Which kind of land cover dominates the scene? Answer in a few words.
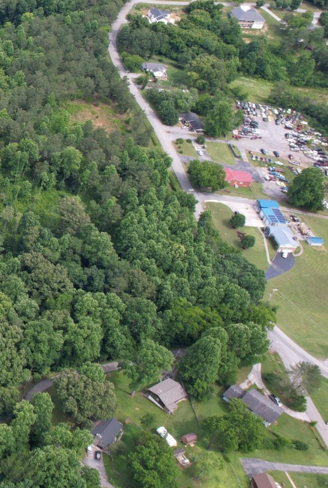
trees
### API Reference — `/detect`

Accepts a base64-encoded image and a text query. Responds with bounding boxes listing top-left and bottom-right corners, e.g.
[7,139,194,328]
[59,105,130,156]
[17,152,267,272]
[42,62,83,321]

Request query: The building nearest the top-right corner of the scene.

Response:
[227,10,268,33]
